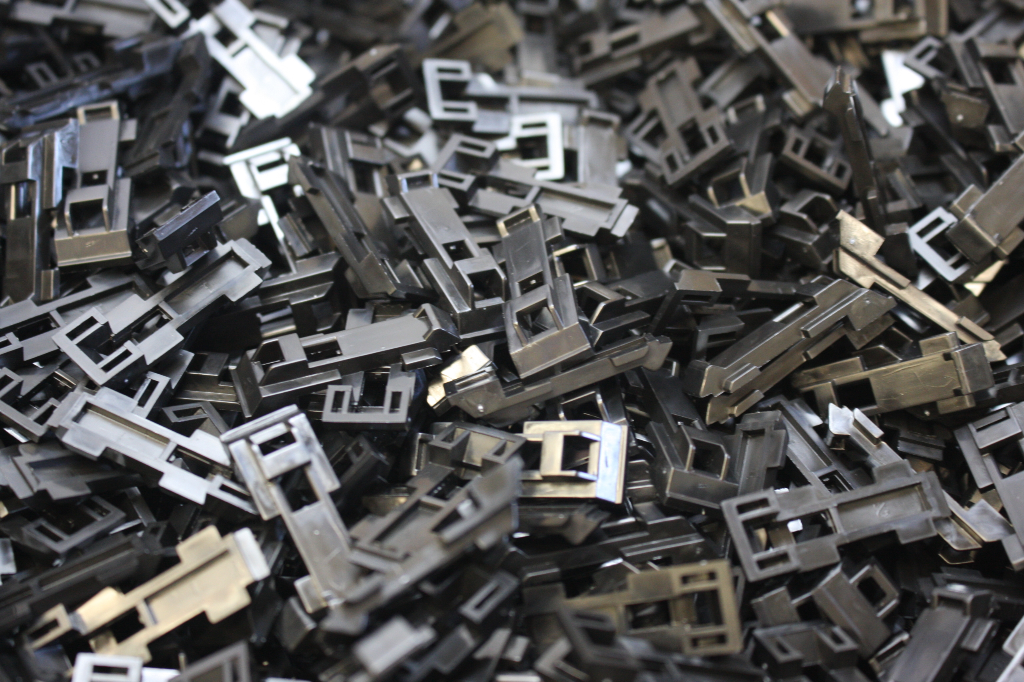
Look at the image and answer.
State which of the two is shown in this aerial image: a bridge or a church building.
bridge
